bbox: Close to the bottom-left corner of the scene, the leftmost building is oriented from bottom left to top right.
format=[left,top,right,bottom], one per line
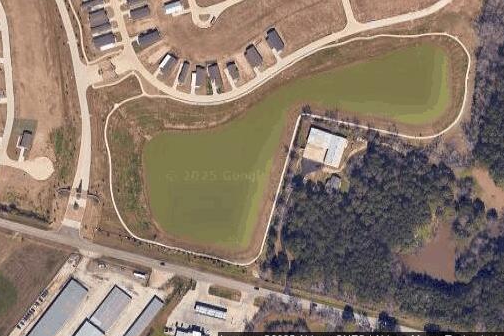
[26,277,87,336]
